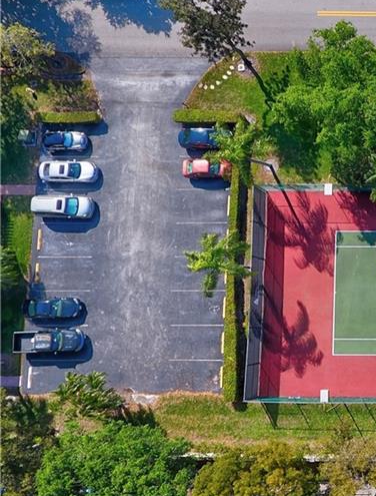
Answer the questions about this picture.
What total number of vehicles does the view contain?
7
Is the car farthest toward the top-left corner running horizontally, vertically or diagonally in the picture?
horizontally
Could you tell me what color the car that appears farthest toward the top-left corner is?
blue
